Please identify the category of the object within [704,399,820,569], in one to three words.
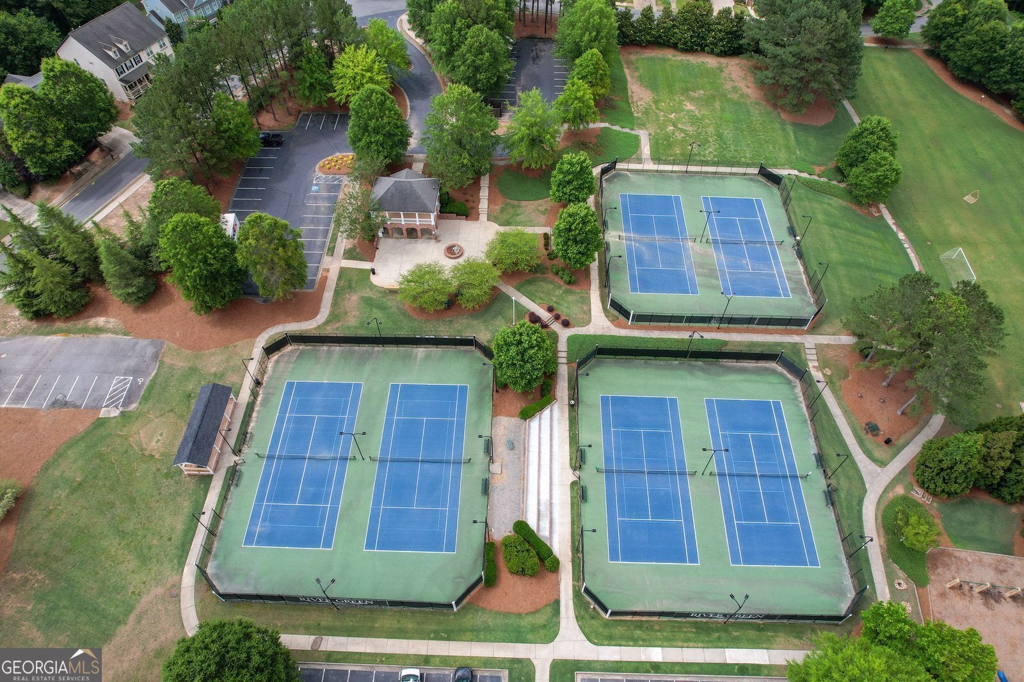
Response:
tennis court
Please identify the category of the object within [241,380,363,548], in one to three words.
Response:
tennis court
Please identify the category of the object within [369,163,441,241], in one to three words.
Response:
building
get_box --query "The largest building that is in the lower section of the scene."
[171,380,238,474]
